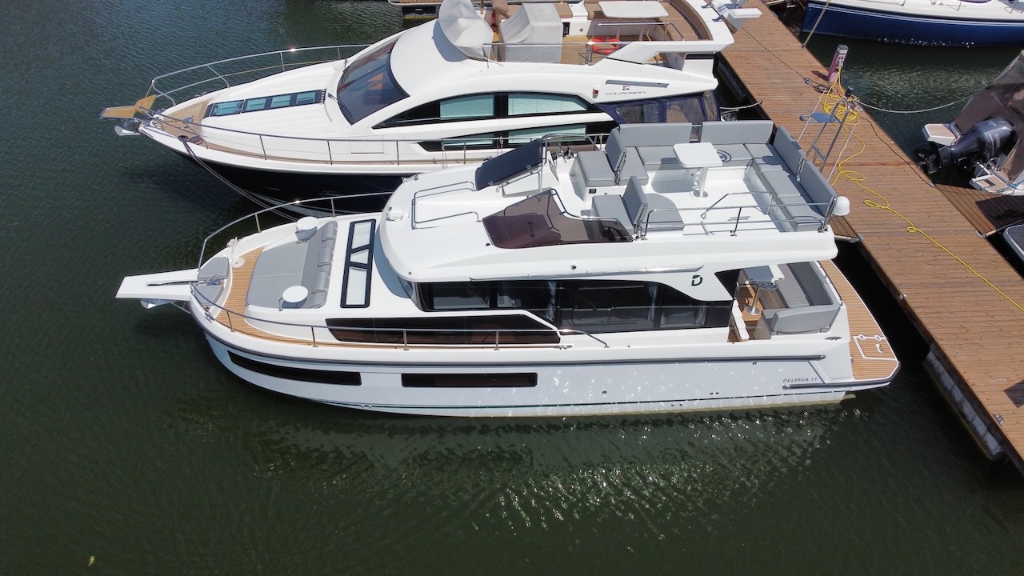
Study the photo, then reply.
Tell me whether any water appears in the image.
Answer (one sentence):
Yes, water shows up in the scene.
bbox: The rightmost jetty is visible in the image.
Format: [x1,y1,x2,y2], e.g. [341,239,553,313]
[929,184,1024,242]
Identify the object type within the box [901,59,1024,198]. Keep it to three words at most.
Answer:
boat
